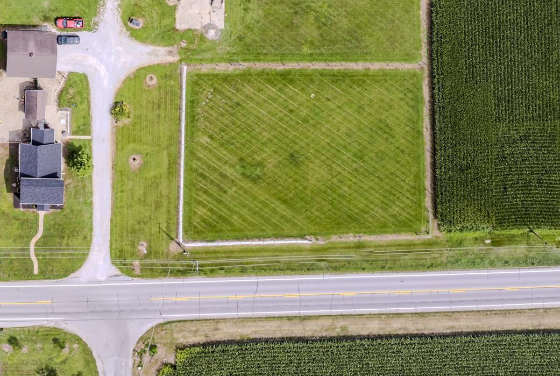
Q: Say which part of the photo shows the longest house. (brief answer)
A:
left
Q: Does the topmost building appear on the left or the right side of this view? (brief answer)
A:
left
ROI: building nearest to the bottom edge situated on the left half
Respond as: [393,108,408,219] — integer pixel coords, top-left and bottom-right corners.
[20,121,65,212]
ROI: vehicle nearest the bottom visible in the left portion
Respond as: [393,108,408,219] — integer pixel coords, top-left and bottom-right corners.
[58,34,81,46]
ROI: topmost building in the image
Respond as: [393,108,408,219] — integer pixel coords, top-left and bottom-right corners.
[6,30,57,78]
